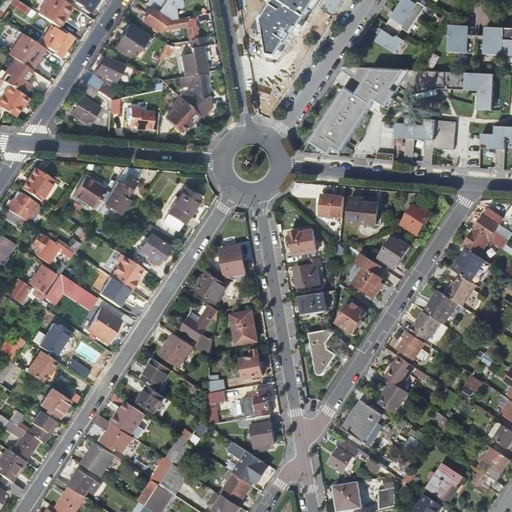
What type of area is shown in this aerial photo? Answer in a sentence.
What you see here is a residential area.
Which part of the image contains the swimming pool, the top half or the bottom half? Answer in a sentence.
The swimming pool sits in the bottom half of the picture.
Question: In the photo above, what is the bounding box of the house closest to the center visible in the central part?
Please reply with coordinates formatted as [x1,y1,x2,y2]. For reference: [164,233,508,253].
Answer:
[218,244,246,278]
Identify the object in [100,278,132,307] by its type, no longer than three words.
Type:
house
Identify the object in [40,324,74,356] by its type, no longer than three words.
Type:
house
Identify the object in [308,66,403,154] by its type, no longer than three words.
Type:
building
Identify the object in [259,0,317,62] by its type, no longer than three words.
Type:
building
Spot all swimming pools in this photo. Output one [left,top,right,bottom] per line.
[74,342,100,364]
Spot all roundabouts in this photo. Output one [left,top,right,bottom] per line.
[232,144,270,182]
